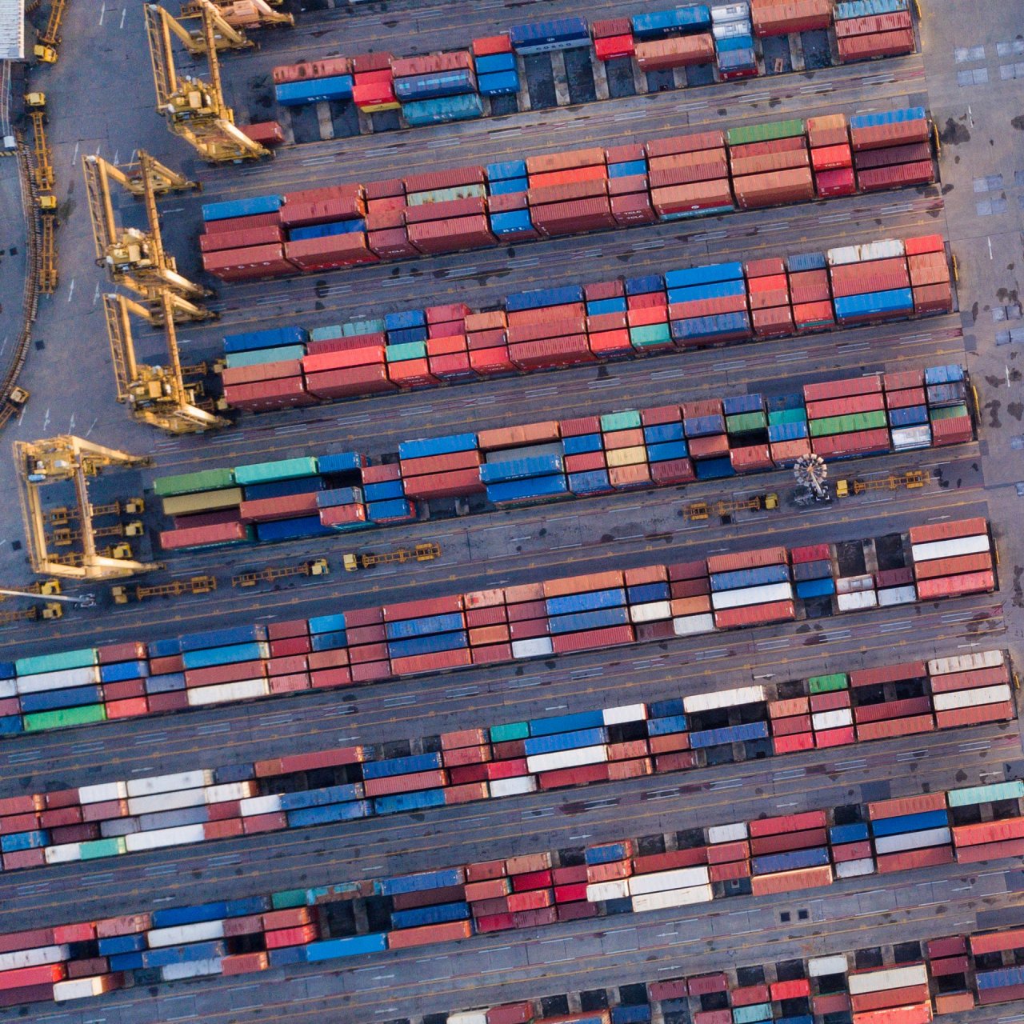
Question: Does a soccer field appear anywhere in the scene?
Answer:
No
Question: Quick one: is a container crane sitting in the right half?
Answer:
No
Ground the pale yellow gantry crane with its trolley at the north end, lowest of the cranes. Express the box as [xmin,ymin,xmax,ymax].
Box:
[17,442,166,580]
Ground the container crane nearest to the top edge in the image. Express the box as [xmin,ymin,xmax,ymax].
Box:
[198,0,294,33]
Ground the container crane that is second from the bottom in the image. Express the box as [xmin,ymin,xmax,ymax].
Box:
[102,288,241,438]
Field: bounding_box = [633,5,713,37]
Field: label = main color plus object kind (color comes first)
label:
blue shipping container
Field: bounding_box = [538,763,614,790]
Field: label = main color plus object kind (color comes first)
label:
red shipping container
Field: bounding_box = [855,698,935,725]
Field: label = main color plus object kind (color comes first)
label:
red shipping container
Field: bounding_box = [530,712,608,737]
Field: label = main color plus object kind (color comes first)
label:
blue shipping container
